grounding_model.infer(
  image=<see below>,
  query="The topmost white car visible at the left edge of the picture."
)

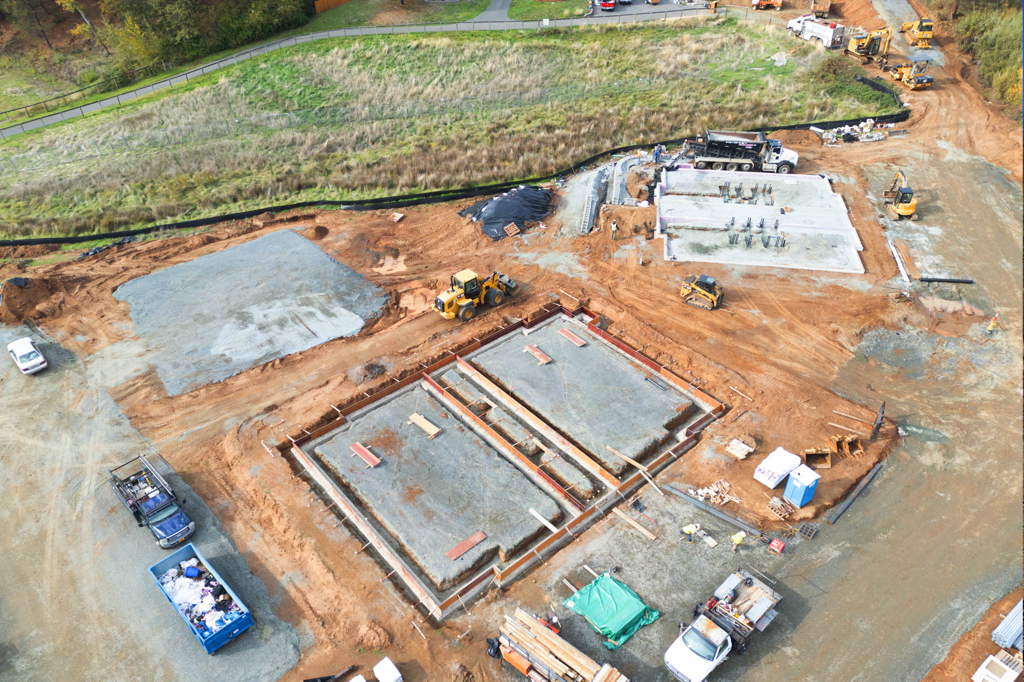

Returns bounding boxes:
[4,331,46,372]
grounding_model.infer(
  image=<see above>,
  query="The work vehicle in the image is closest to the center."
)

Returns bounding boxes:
[434,269,521,324]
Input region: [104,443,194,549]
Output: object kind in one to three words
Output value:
truck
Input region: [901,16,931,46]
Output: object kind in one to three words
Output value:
work vehicle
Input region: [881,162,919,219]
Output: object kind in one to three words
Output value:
work vehicle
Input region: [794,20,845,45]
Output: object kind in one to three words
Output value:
truck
